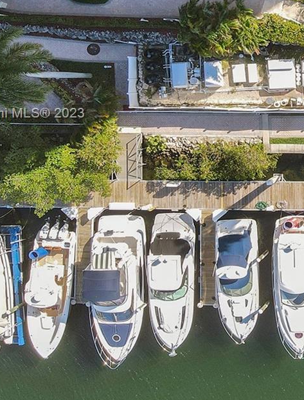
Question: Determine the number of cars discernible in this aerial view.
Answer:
0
